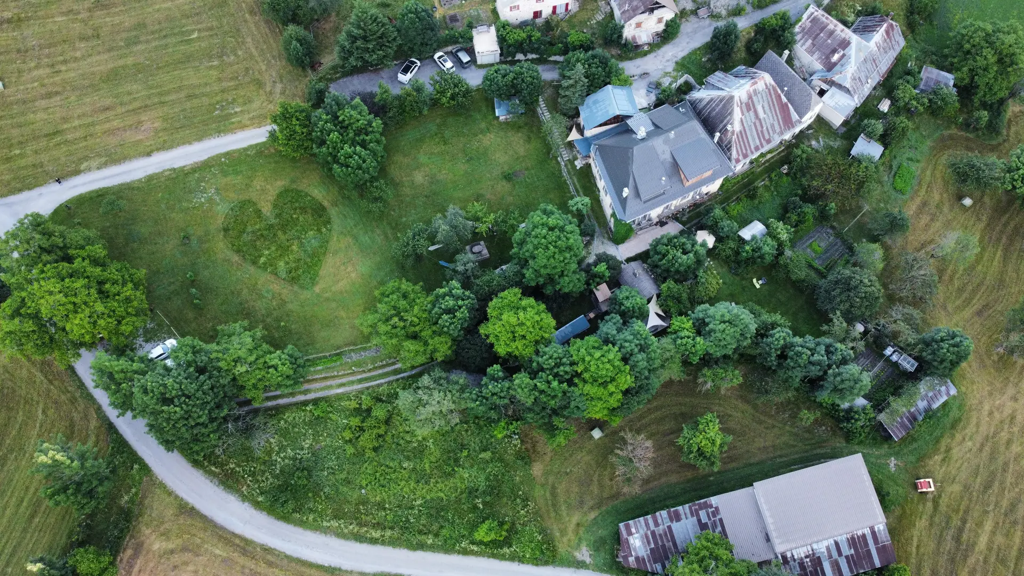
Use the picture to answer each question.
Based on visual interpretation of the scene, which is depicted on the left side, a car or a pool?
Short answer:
car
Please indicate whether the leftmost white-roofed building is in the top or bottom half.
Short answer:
top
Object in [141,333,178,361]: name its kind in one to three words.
car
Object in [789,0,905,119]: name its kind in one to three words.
house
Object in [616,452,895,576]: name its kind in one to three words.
barn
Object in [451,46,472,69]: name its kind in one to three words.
car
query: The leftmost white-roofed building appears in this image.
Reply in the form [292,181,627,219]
[472,26,500,67]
